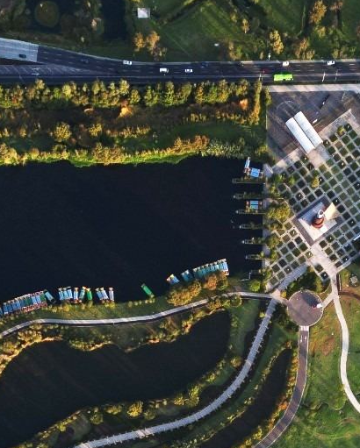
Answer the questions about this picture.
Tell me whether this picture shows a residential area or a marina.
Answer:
marina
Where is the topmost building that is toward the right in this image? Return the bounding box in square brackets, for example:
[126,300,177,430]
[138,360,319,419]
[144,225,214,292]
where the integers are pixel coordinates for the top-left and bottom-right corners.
[284,108,329,152]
